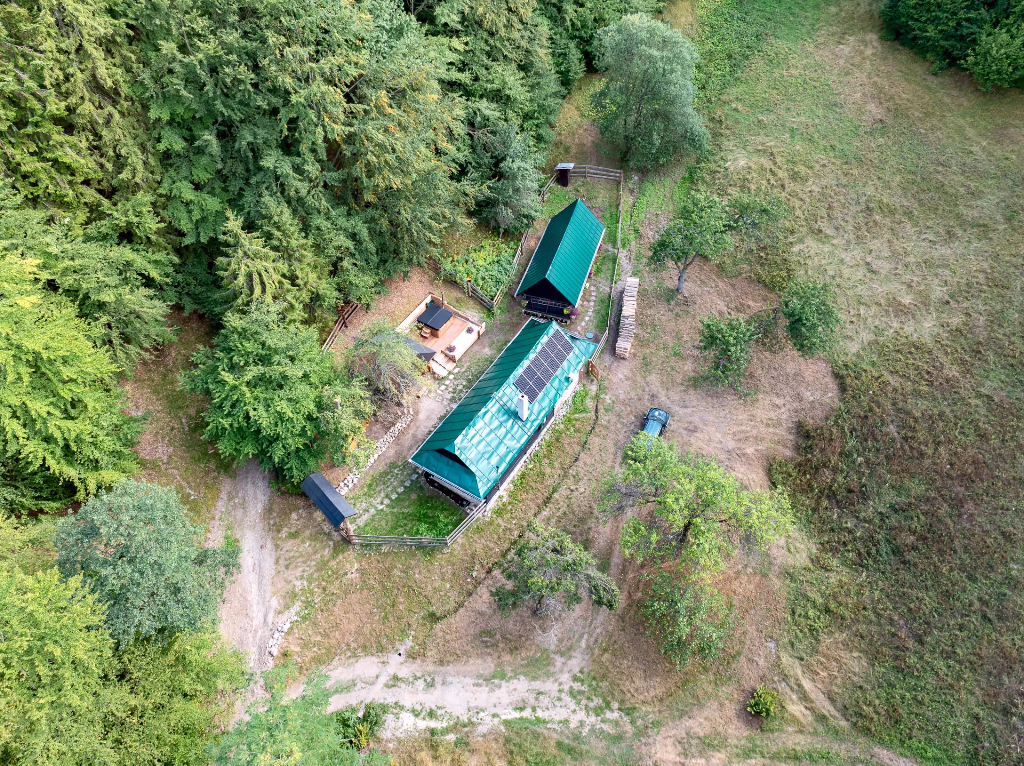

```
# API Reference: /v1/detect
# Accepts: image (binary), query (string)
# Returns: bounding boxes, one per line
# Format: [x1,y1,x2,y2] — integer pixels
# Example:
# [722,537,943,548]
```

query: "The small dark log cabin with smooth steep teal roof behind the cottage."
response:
[515,197,607,328]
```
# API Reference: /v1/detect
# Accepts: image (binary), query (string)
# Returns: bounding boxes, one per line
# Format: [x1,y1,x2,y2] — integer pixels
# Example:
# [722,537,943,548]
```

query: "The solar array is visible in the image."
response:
[514,327,574,404]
